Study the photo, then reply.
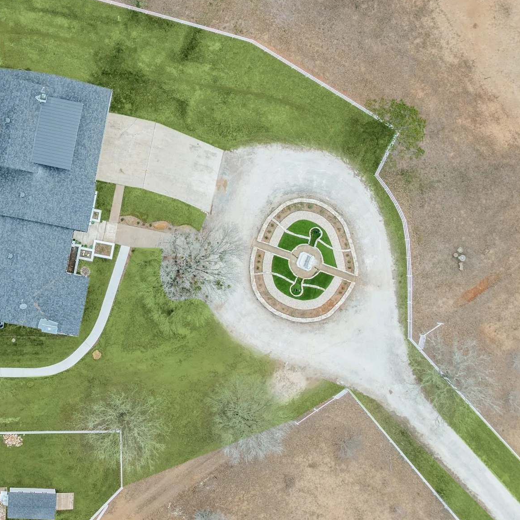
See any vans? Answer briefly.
No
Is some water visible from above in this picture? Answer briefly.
No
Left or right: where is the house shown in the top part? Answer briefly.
left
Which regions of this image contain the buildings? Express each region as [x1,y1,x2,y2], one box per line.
[8,488,56,520]
[0,69,113,336]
